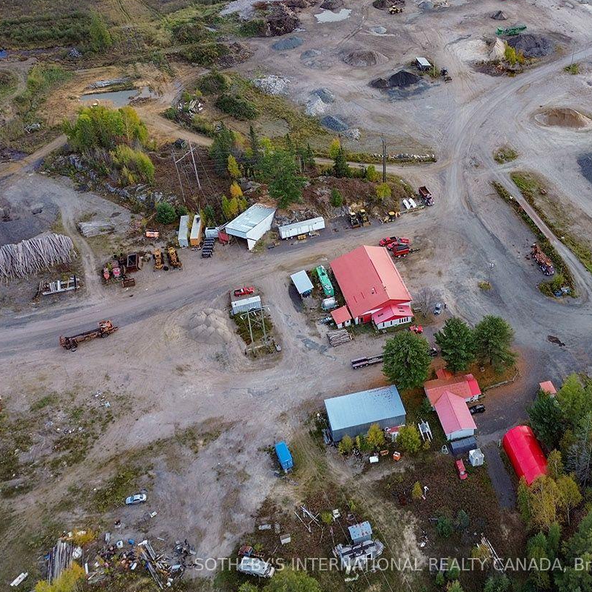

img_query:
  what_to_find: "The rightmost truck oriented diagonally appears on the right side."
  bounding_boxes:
[532,242,554,270]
